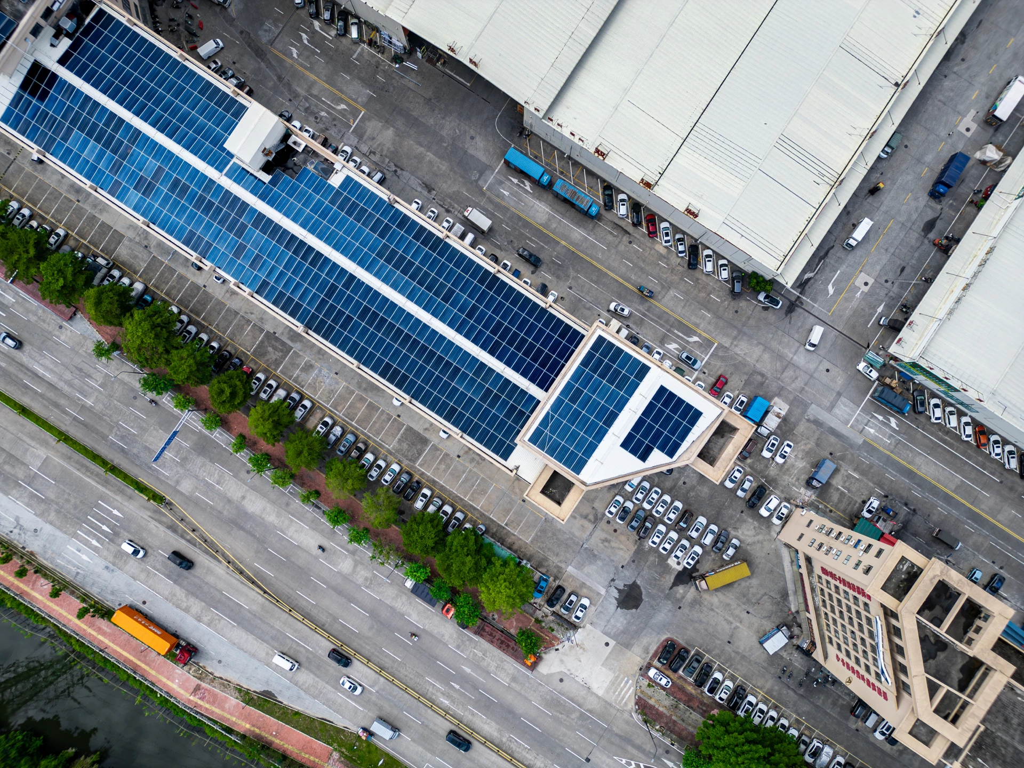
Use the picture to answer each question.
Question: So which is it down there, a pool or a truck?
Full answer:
I can see a truck in this picture.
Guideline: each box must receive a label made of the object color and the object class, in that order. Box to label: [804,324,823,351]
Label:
white vehicle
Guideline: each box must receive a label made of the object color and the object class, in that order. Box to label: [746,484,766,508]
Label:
black car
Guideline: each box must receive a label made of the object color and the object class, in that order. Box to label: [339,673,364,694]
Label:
white car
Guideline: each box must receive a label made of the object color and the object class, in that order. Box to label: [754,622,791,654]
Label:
white truck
